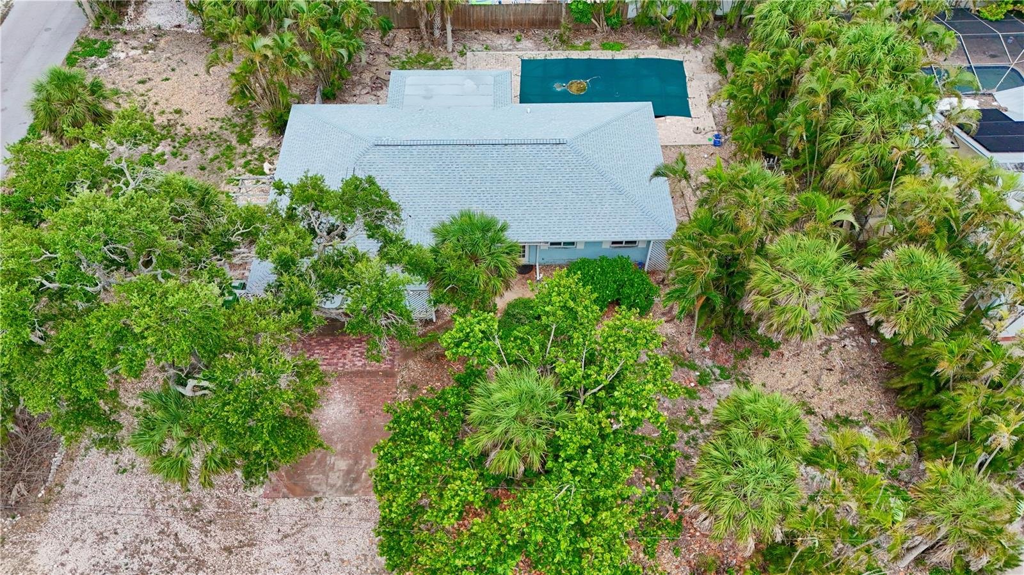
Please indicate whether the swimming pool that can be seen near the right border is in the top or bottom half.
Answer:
top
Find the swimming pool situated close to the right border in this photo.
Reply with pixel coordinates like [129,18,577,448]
[913,64,1024,97]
